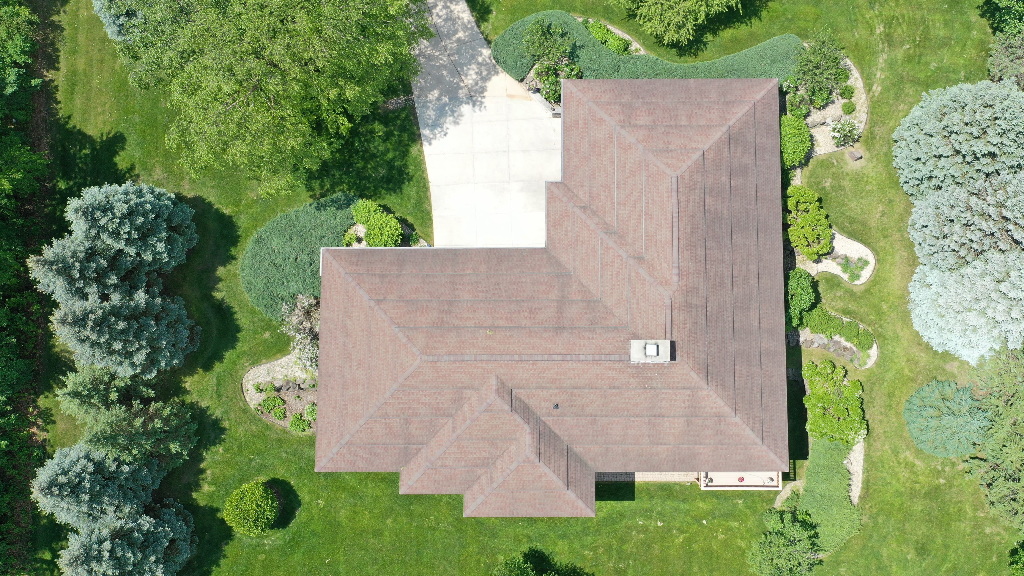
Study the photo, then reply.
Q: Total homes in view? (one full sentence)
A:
Just 1 home appears in this view.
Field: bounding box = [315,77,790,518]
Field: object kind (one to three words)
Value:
house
